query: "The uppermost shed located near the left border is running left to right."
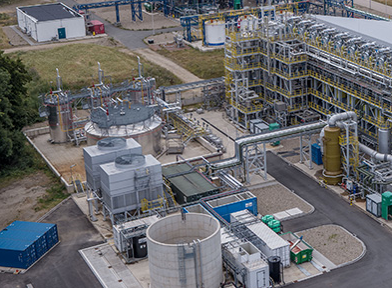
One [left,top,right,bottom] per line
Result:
[16,2,110,43]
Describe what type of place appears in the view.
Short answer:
industrial area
